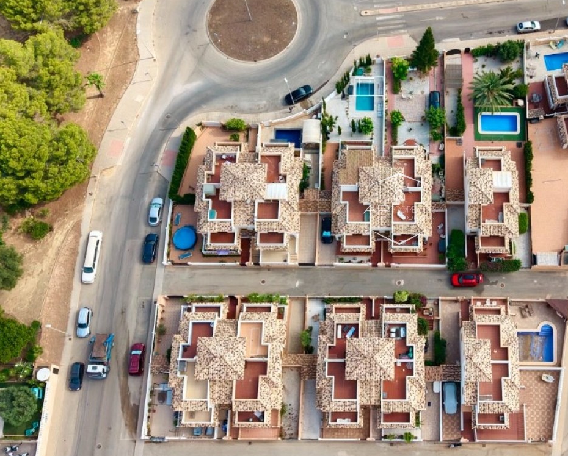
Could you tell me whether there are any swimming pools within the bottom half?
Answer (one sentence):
Yes, looking within the bottom half, one can make out a swimming pool.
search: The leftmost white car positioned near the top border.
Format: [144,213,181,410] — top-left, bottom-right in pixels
[515,18,541,33]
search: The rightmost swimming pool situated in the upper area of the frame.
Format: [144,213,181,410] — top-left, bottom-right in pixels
[544,52,568,72]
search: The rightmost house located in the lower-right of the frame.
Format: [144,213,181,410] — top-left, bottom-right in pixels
[457,304,519,429]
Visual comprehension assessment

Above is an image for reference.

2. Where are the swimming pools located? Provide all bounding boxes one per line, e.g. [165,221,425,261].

[355,81,376,111]
[515,322,555,364]
[274,128,303,148]
[544,52,568,72]
[478,111,520,135]
[172,226,199,252]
